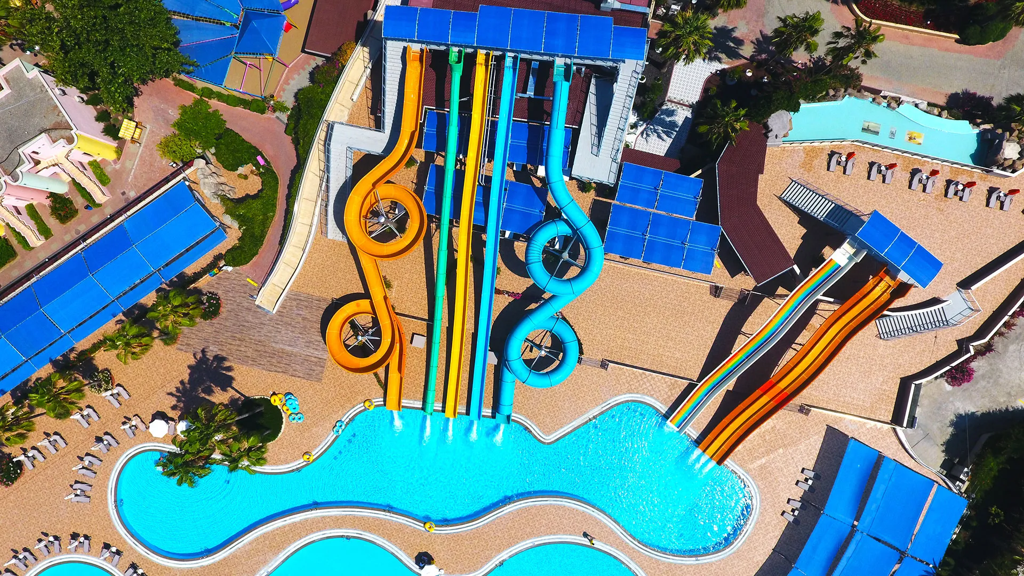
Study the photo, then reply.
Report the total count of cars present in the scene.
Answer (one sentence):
There are no cars in the image.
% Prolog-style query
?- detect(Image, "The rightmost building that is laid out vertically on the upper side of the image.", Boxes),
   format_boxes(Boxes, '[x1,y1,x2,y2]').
[711,120,796,286]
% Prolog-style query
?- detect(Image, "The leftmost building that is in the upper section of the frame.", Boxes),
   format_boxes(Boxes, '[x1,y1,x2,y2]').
[0,57,115,246]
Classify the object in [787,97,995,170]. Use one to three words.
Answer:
swimming pool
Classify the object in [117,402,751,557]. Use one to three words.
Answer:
swimming pool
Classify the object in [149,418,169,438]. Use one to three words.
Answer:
umbrella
